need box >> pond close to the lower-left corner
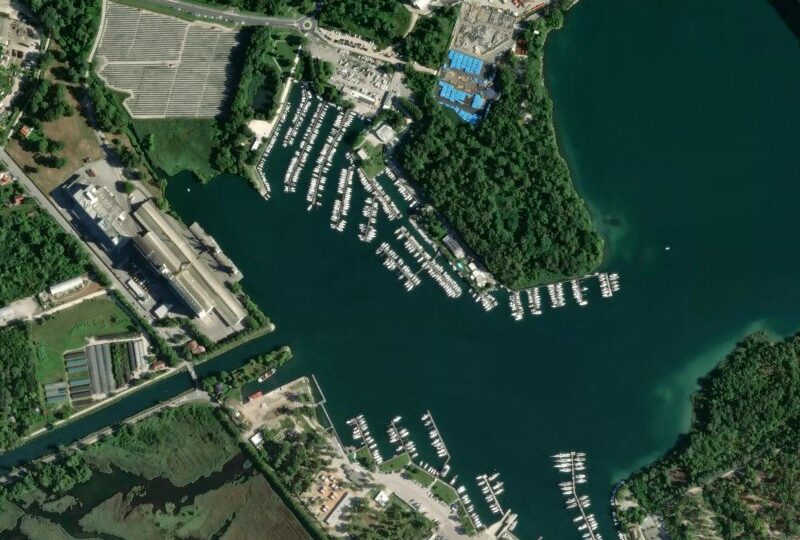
[0,452,255,540]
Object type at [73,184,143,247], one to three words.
building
